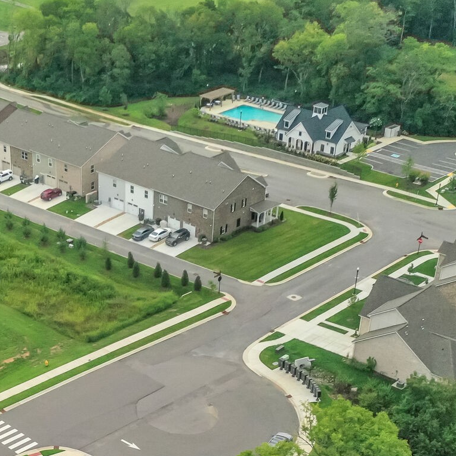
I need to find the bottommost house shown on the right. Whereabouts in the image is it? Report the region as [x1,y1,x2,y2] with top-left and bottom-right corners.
[350,275,456,388]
